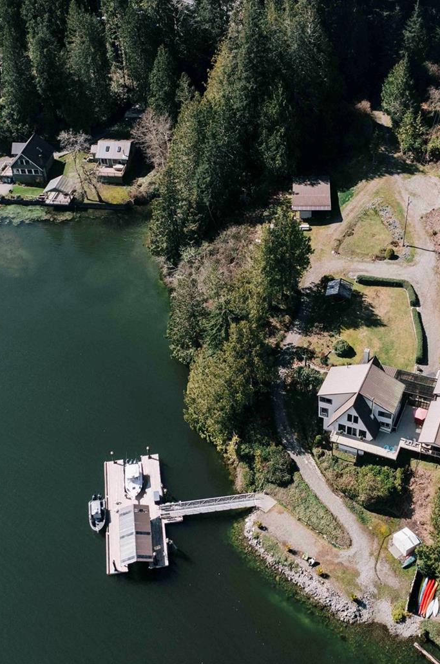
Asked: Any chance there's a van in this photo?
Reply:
No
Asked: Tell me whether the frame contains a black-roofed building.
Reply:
Yes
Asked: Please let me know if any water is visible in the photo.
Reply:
Yes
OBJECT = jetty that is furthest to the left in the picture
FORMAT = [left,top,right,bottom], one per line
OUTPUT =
[104,454,183,575]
